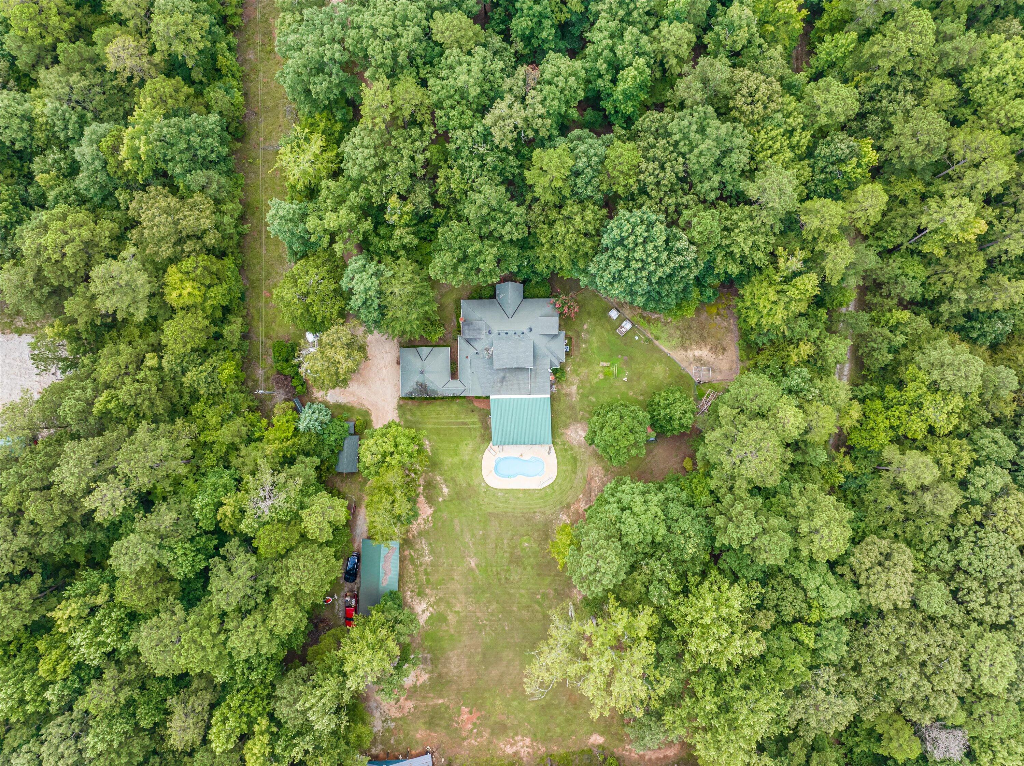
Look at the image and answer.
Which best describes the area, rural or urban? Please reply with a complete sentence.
This place is rural.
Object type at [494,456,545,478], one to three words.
swimming pool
